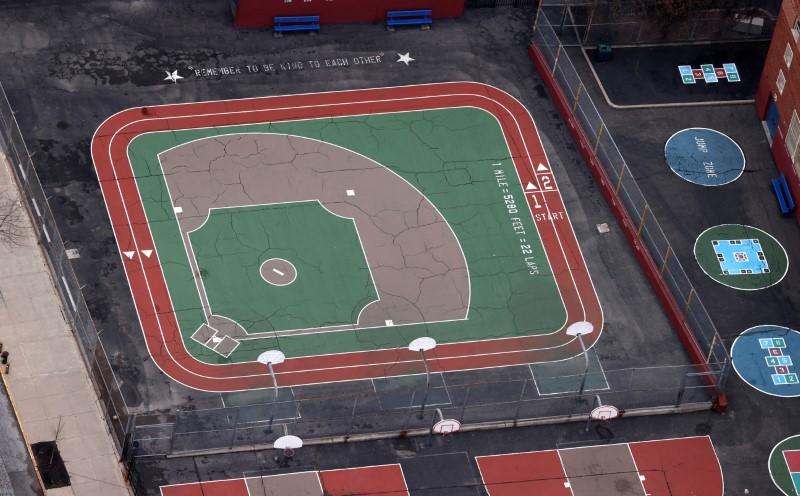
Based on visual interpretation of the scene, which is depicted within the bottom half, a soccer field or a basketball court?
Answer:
basketball court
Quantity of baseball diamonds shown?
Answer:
1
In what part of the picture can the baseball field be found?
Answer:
center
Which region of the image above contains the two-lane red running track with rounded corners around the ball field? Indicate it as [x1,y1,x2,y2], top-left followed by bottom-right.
[92,81,604,392]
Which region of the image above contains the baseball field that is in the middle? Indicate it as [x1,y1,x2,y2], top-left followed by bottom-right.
[96,103,574,381]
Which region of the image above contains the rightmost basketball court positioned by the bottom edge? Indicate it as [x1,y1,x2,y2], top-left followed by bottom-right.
[474,434,726,496]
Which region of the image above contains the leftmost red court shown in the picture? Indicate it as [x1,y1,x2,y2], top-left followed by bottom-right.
[159,451,415,496]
